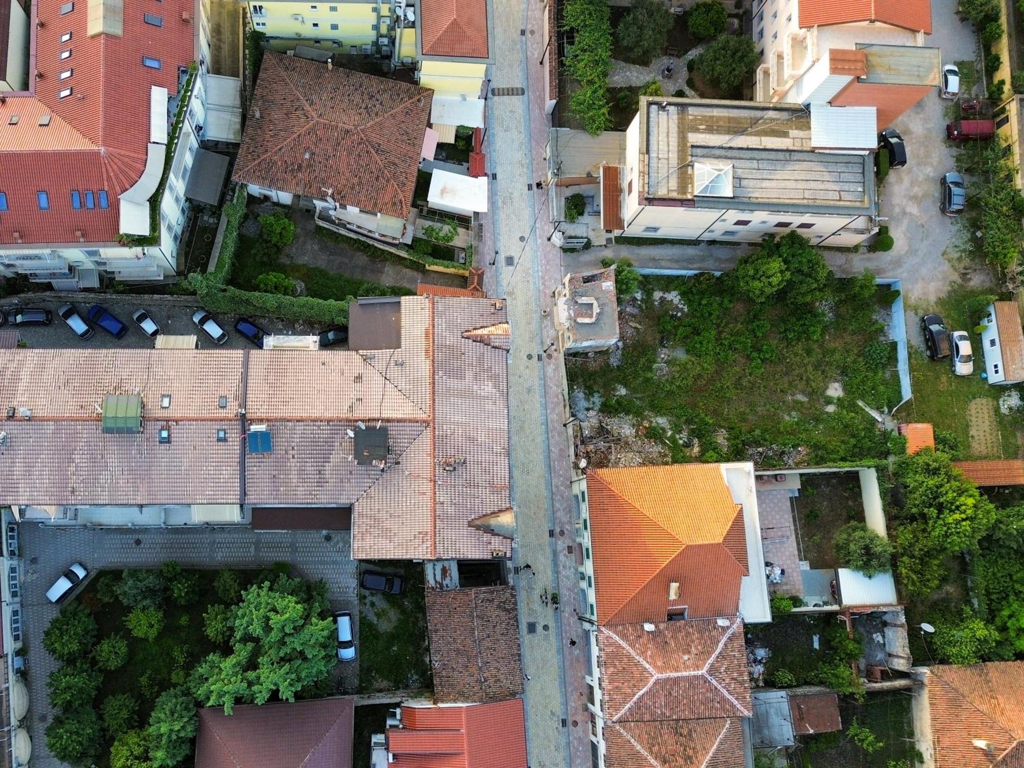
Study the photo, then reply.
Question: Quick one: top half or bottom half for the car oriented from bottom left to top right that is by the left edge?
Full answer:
Seen from above, the car oriented from bottom left to top right that is by the left edge lies in the bottom half of the view.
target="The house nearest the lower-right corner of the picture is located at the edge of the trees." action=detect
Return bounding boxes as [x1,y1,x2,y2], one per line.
[915,661,1024,768]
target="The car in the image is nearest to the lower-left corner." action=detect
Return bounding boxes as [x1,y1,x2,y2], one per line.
[41,561,89,606]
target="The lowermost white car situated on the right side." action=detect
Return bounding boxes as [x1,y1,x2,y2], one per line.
[954,332,978,373]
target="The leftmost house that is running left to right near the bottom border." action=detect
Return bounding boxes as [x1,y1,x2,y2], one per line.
[195,697,355,768]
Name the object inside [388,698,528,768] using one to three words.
house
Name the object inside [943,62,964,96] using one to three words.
car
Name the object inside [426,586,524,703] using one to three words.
shed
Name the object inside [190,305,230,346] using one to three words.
car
